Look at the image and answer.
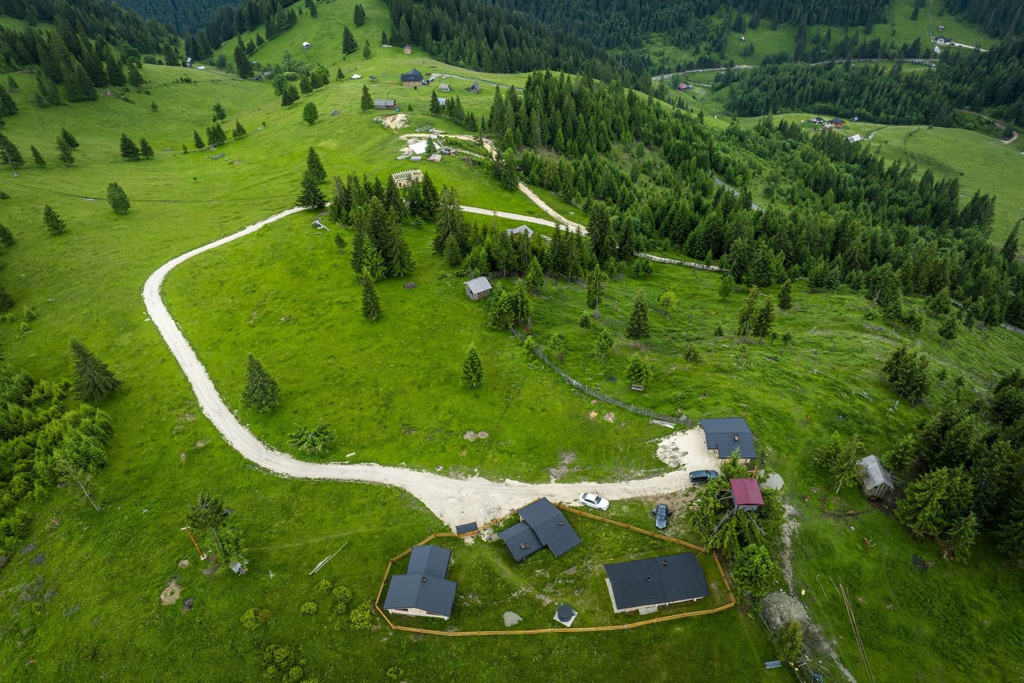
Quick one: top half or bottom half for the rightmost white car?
bottom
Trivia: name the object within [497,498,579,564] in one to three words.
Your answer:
building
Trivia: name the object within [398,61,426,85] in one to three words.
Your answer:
house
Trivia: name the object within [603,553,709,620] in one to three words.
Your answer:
building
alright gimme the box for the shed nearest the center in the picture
[466,280,492,301]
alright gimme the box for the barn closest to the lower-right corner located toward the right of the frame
[860,454,904,499]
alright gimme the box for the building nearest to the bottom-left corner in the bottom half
[381,545,457,624]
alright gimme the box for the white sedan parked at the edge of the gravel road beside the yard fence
[578,490,611,512]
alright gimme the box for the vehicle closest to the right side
[688,468,720,483]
